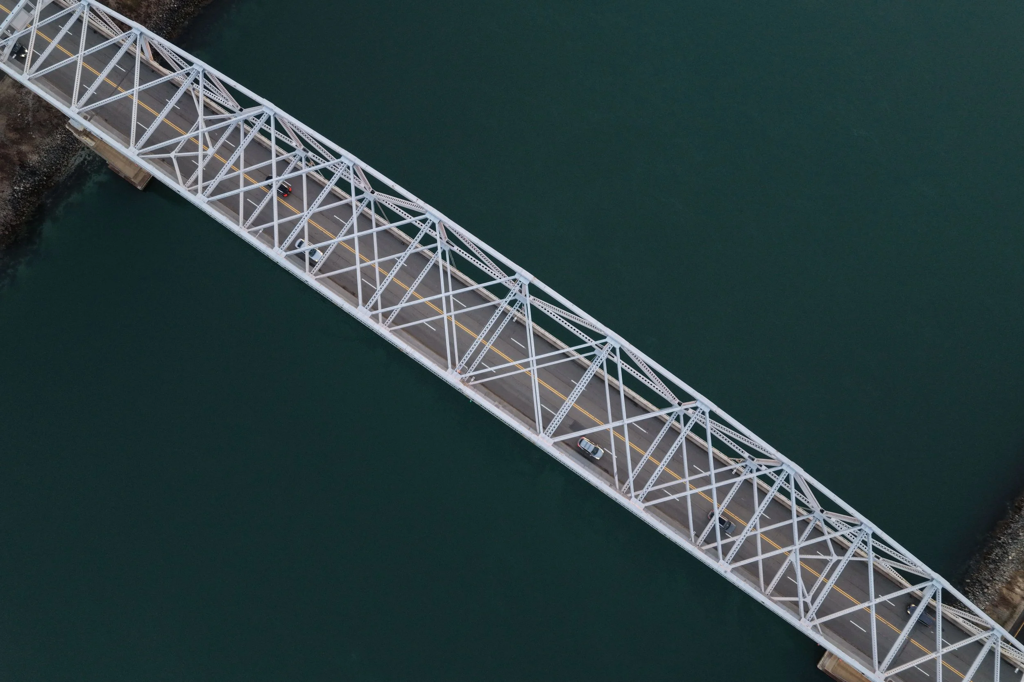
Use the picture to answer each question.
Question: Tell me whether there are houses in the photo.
No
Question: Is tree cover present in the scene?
No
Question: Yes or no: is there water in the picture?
Yes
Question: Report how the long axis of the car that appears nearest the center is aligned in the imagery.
on a diagonal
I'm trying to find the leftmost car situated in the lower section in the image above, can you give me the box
[576,437,605,461]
